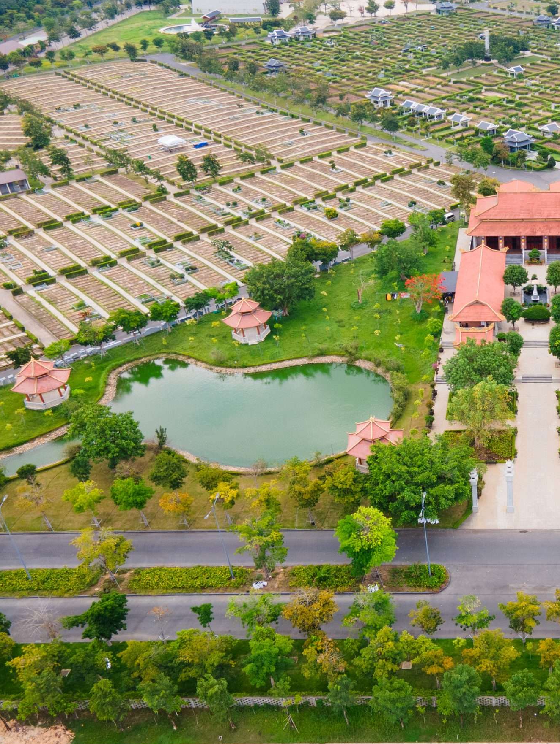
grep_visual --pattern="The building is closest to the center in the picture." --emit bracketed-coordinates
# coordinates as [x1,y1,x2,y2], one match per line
[218,294,277,342]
